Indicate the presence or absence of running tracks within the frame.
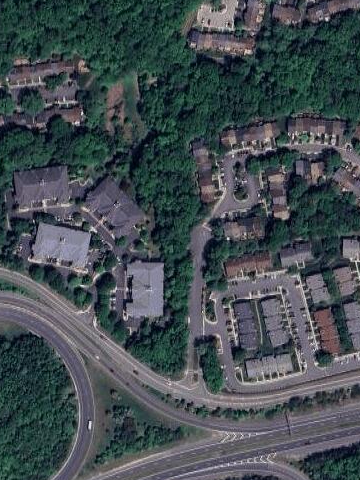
No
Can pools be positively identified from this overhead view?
No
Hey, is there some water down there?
No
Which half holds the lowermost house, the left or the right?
right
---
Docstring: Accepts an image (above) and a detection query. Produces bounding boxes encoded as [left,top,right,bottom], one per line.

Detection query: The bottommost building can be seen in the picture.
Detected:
[244,350,294,380]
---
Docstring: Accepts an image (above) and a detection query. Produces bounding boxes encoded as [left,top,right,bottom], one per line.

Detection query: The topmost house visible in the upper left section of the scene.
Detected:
[8,60,76,83]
